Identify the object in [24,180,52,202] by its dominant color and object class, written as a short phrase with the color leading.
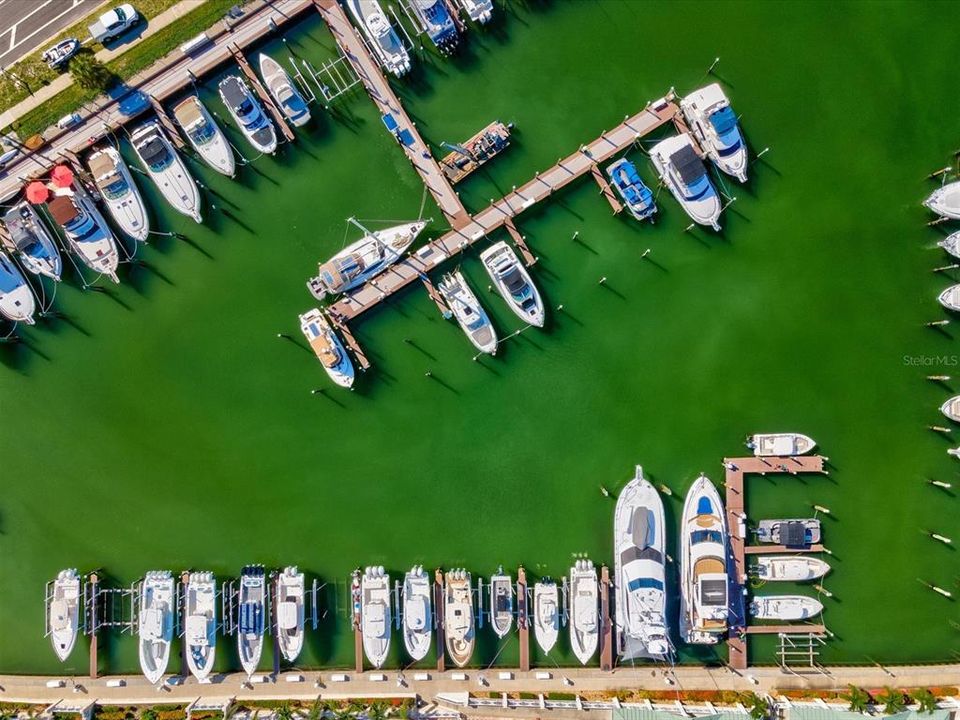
red umbrella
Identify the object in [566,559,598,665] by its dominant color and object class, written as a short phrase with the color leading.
white boat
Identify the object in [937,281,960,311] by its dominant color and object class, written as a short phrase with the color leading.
white boat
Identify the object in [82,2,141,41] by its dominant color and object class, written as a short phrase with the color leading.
white truck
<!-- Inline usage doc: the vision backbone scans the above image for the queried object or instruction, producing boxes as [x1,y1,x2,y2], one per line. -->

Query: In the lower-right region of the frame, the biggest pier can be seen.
[715,454,833,669]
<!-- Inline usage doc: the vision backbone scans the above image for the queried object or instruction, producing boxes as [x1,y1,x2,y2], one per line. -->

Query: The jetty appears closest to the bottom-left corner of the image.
[82,572,106,674]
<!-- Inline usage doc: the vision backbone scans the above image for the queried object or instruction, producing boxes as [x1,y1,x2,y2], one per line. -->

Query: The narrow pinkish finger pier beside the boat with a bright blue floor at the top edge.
[441,0,468,36]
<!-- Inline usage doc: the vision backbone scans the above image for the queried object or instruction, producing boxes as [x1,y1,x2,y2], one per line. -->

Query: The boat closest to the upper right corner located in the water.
[920,172,960,224]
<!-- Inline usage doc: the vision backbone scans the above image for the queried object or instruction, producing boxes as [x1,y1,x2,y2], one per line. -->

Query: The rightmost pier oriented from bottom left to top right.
[331,95,707,368]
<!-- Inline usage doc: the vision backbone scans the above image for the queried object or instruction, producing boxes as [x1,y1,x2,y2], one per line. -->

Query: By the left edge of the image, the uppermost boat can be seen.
[39,38,84,69]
